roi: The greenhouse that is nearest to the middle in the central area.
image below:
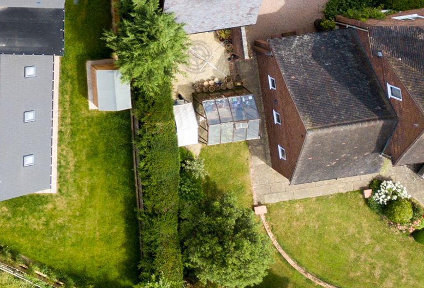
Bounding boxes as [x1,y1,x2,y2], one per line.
[193,90,261,146]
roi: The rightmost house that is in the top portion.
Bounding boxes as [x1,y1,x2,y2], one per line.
[247,13,424,187]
